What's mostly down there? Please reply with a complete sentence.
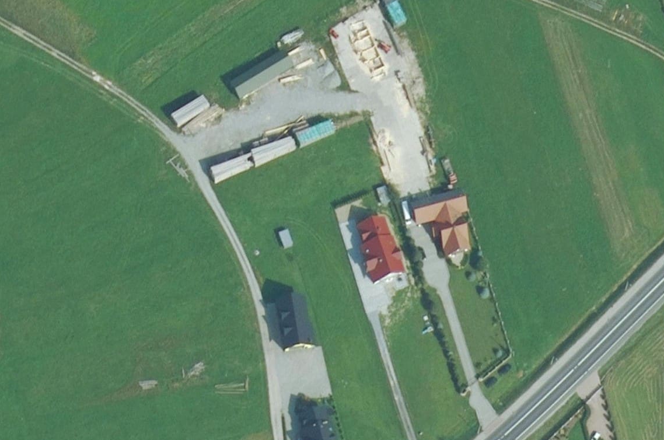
For the most part, this view shows grass.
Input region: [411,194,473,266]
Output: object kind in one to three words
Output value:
house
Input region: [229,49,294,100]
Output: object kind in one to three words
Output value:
building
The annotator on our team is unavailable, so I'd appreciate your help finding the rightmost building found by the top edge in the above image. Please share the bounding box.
[349,20,386,80]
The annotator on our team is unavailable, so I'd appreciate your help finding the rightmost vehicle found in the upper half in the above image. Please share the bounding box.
[442,159,457,184]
